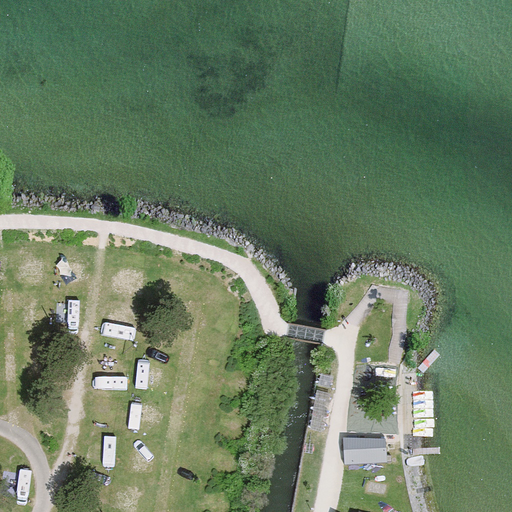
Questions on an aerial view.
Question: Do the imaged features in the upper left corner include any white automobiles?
No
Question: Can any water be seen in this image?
Yes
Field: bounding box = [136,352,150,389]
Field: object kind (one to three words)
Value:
camper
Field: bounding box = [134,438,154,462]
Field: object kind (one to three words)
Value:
car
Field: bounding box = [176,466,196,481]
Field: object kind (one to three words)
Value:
car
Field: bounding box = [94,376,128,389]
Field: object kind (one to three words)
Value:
vehicle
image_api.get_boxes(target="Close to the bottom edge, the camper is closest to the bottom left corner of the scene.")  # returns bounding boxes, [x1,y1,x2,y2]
[16,468,34,505]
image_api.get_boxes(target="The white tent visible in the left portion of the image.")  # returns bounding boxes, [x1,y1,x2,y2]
[56,253,76,285]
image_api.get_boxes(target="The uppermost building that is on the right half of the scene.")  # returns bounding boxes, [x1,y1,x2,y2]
[343,436,388,466]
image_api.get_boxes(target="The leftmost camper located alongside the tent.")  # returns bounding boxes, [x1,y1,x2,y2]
[67,299,81,334]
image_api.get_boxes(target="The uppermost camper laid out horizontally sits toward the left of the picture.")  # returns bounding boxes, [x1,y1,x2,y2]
[97,322,136,340]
